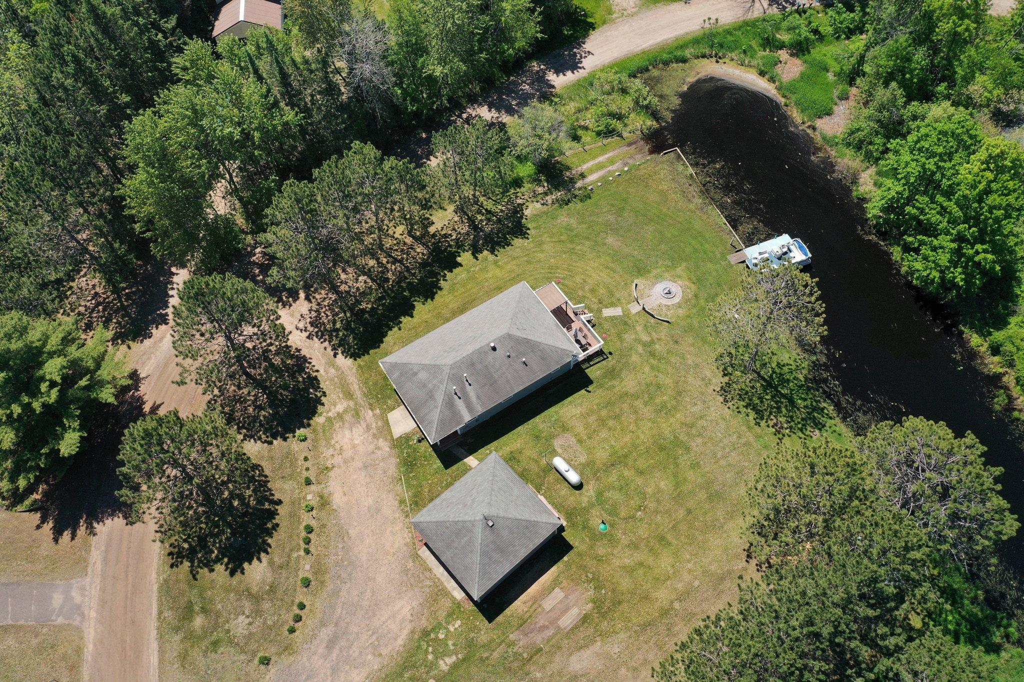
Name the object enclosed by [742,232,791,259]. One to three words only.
pier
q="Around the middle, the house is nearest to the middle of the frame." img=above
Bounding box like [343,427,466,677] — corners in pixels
[377,280,583,462]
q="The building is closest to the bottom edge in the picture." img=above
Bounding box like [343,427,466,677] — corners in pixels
[410,451,562,605]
